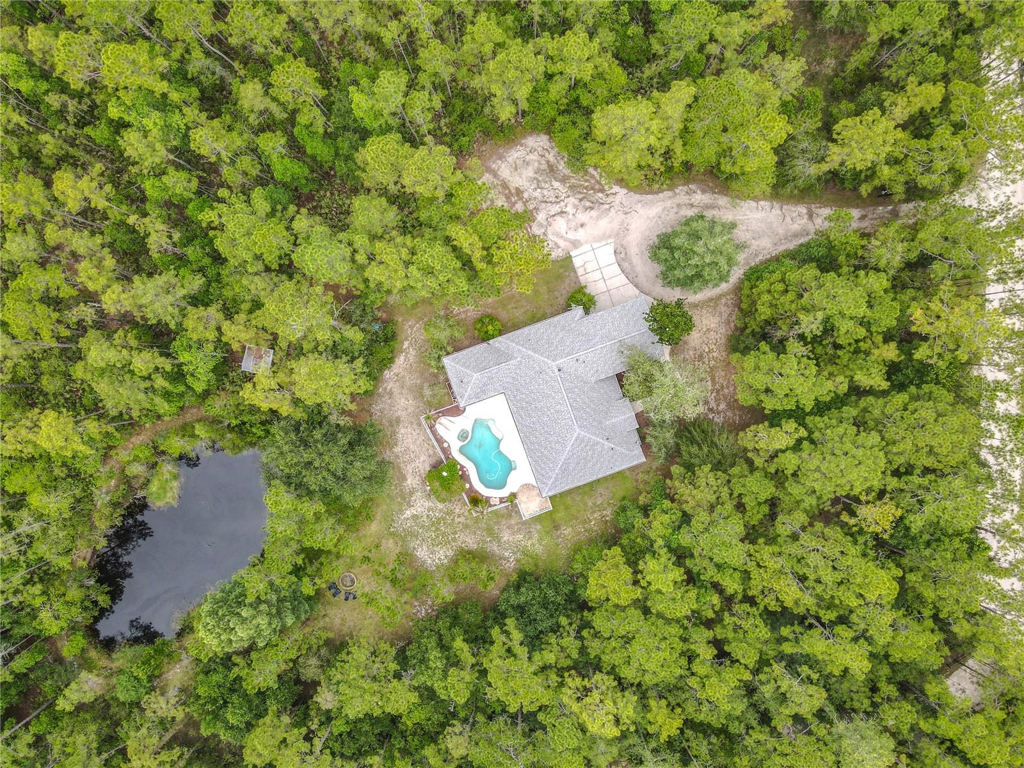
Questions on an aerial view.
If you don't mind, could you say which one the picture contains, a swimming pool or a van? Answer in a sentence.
The one in the frame is a swimming pool.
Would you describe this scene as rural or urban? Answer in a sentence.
The area shown here is rural.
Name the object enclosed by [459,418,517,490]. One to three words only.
swimming pool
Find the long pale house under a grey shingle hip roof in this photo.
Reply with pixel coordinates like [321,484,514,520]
[442,293,667,499]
